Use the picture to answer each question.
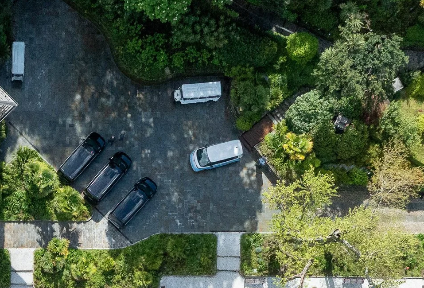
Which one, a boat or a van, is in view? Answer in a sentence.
Looking from above, you can make out a van.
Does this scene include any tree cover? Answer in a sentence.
Yes, the picture does contain tree cover.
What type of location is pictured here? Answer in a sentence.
This looks like a sports ground.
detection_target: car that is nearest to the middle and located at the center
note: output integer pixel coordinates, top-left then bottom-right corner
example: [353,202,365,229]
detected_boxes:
[187,138,247,176]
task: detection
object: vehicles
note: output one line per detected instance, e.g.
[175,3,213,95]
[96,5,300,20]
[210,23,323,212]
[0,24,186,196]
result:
[55,129,107,188]
[172,80,227,112]
[104,176,157,235]
[187,138,247,176]
[79,153,131,211]
[11,39,25,89]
